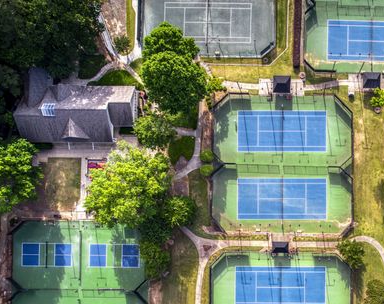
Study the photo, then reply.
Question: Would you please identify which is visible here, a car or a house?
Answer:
house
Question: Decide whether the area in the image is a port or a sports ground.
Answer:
sports ground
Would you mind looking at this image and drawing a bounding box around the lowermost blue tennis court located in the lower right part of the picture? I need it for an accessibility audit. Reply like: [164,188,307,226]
[211,253,351,304]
